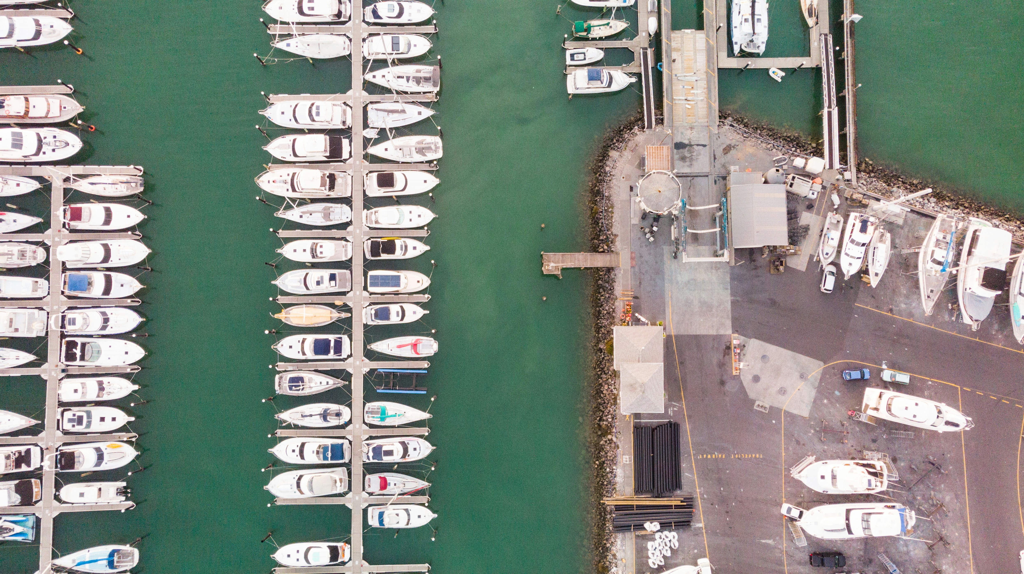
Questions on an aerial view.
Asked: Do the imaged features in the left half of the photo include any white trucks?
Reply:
No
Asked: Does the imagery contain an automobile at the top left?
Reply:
No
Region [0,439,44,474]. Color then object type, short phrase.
white boat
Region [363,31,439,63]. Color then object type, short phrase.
white boat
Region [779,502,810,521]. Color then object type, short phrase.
white car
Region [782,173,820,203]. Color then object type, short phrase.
white truck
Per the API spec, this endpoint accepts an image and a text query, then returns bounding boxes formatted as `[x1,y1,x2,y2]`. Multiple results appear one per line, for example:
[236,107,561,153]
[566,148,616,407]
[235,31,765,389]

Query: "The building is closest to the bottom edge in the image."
[619,362,665,414]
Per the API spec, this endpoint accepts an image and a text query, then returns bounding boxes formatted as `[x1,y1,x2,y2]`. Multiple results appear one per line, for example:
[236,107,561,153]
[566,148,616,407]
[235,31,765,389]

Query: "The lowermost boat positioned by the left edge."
[47,546,143,574]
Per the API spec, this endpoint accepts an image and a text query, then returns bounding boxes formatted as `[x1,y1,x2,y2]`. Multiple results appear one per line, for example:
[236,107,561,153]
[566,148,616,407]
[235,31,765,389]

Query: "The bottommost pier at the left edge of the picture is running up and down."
[0,165,144,574]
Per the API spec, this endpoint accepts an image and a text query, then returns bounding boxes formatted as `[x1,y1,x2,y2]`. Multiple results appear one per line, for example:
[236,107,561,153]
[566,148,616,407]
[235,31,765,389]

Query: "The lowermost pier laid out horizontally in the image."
[541,251,613,279]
